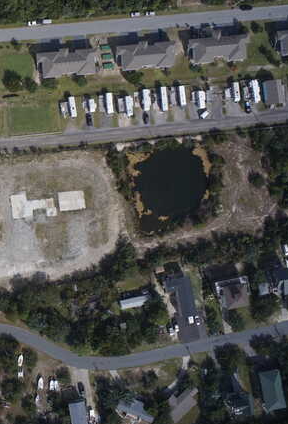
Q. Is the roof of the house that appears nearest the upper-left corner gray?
Yes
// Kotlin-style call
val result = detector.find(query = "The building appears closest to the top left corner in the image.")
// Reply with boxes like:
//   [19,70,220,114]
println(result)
[37,49,97,78]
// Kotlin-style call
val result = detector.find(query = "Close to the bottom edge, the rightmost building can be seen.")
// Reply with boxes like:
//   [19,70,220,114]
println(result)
[257,369,286,411]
